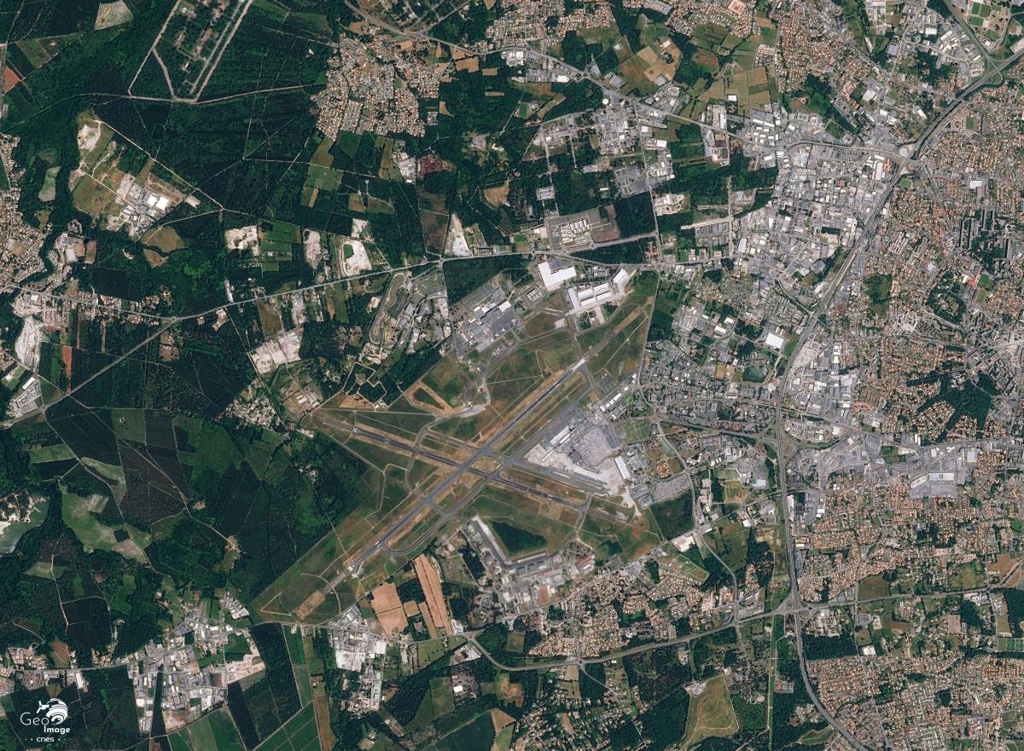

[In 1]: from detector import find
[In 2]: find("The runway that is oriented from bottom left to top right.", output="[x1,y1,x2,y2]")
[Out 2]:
[355,360,587,567]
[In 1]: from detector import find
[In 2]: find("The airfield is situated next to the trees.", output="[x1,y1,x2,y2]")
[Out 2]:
[254,258,664,626]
